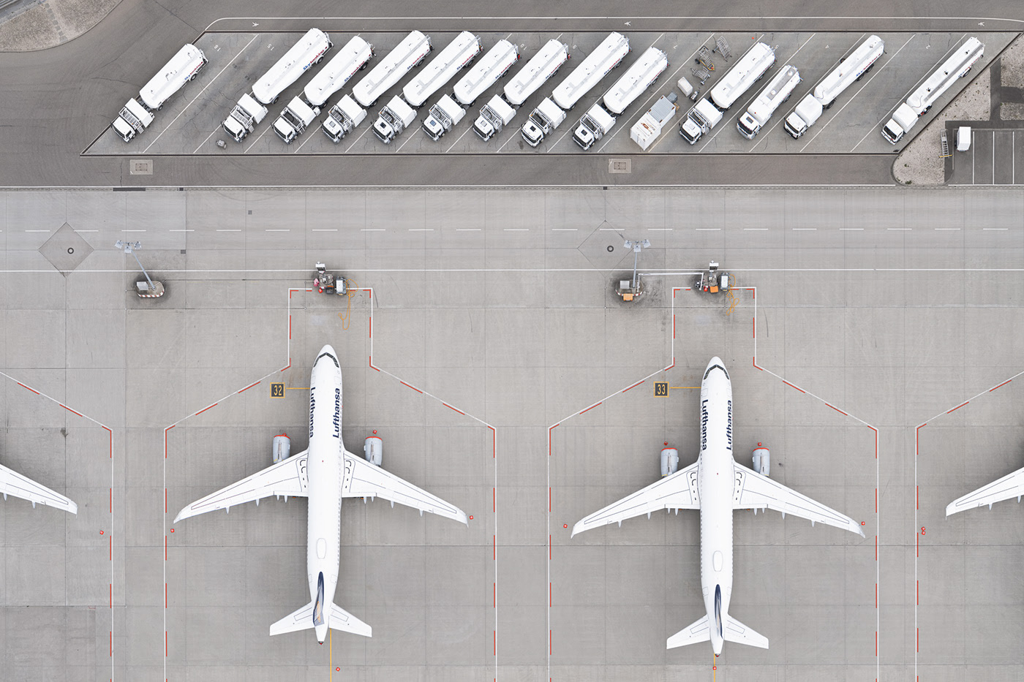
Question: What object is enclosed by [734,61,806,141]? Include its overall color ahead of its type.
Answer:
white truck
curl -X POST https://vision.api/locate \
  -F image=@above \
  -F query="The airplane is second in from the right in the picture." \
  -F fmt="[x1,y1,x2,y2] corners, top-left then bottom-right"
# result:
[572,356,866,659]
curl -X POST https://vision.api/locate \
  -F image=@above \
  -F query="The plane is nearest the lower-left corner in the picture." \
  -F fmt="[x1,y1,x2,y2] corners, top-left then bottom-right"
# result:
[0,465,78,519]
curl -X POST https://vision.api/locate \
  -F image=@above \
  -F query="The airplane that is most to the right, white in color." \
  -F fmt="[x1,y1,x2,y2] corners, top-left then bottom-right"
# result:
[944,465,1024,521]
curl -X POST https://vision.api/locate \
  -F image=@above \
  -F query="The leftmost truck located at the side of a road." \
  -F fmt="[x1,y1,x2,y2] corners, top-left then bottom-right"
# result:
[107,44,205,144]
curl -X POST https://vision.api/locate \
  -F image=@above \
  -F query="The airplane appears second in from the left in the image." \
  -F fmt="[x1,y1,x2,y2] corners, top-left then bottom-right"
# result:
[173,344,467,647]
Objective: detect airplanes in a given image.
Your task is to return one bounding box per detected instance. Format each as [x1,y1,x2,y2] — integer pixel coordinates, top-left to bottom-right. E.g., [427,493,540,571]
[572,356,866,659]
[944,465,1024,521]
[173,344,467,647]
[0,465,78,519]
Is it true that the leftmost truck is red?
No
